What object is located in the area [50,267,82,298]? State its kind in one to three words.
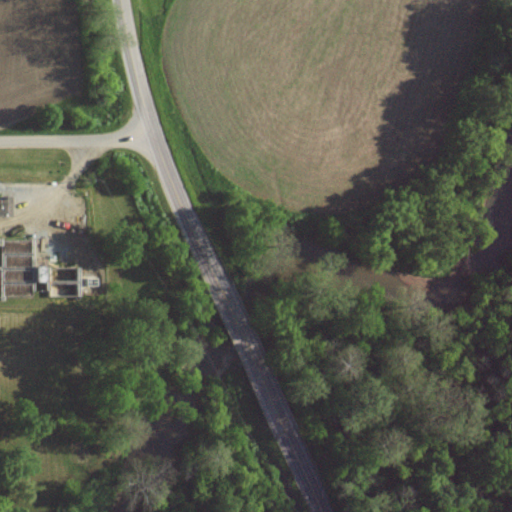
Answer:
storage tank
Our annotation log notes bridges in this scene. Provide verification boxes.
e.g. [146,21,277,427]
[212,286,258,349]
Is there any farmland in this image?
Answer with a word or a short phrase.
Yes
